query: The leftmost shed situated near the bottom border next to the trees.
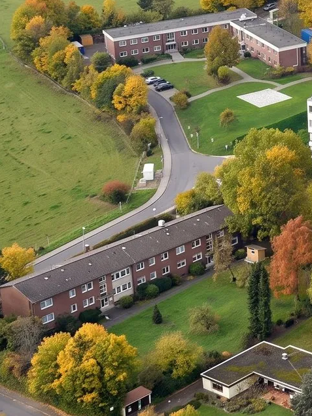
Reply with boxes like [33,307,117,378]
[117,383,150,414]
